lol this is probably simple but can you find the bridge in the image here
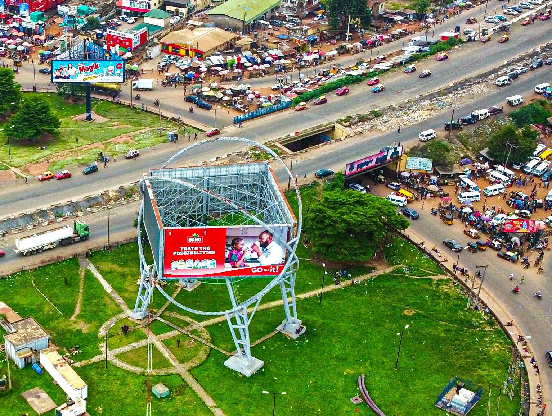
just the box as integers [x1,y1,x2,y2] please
[220,98,432,193]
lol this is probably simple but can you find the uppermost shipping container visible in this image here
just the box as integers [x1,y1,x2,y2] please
[46,341,89,396]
